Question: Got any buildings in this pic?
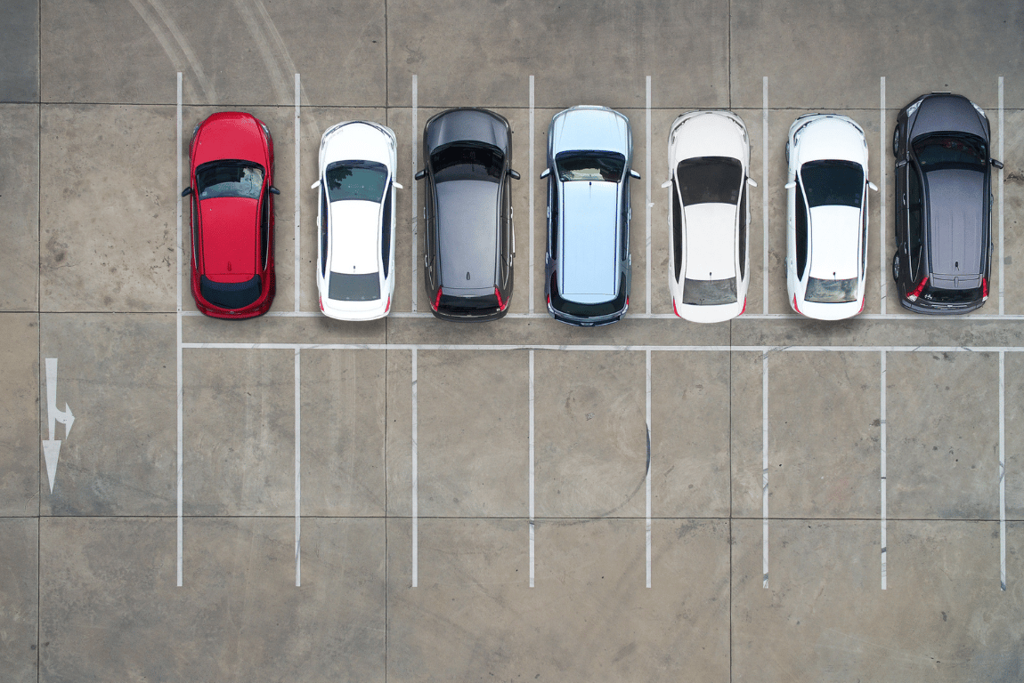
No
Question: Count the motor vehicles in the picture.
7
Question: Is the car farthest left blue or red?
red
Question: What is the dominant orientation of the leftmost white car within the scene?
up and down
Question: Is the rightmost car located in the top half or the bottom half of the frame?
top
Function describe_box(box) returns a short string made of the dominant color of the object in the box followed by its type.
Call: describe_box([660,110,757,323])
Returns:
white car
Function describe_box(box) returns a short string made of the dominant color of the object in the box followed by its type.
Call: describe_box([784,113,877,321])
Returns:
white car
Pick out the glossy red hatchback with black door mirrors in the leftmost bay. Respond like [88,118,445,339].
[182,111,281,321]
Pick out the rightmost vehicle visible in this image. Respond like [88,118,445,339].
[893,93,1002,315]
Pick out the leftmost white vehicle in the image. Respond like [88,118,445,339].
[311,121,403,322]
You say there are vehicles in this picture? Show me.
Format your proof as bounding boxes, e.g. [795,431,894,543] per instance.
[539,105,640,327]
[784,113,877,321]
[415,108,520,322]
[660,110,757,323]
[182,111,281,321]
[311,121,403,322]
[893,93,1002,315]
